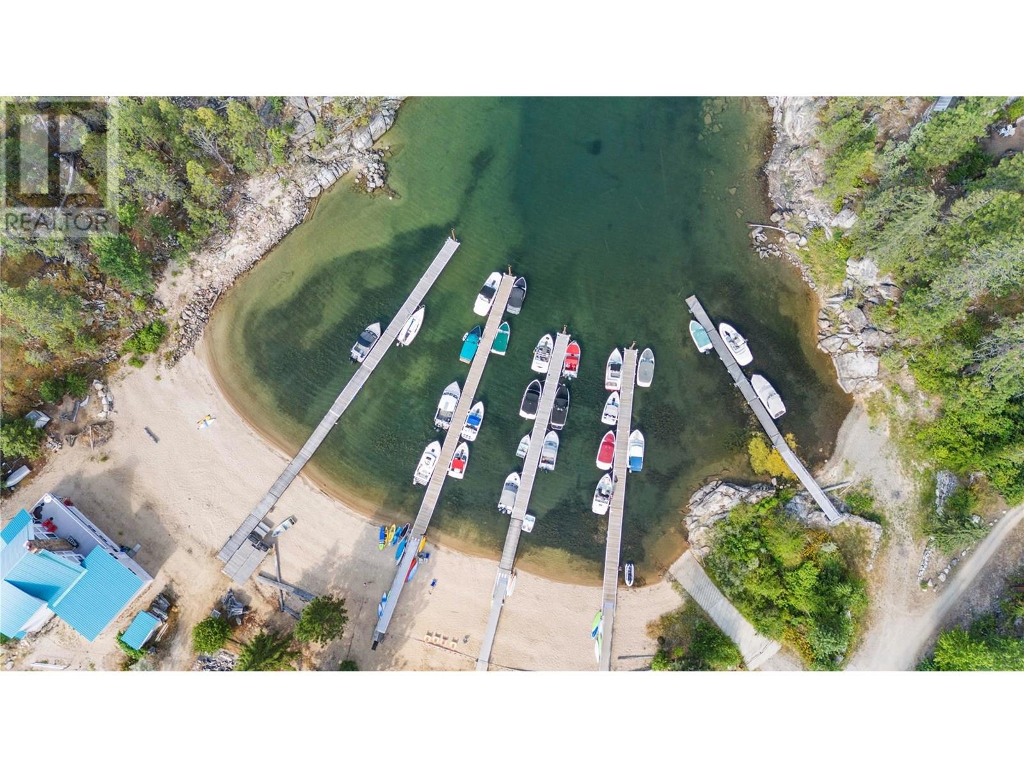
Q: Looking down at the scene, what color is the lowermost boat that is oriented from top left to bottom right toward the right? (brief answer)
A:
white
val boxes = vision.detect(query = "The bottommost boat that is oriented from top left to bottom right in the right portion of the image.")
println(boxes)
[752,375,786,419]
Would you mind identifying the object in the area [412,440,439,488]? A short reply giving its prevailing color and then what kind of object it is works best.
white boat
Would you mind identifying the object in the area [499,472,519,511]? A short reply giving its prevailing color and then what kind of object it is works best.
white boat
